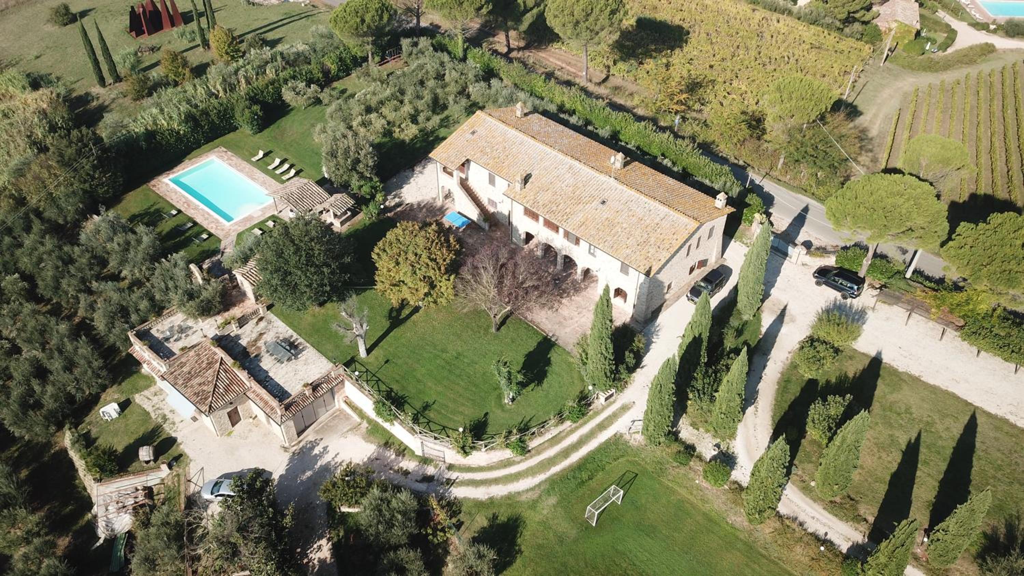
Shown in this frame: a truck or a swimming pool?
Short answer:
swimming pool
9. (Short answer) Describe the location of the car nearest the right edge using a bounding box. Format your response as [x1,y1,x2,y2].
[808,261,869,298]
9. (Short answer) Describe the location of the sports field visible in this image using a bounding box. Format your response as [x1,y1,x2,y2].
[395,454,807,576]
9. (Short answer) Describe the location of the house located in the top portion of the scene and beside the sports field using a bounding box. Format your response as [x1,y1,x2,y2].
[428,102,737,319]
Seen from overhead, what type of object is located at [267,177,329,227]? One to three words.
building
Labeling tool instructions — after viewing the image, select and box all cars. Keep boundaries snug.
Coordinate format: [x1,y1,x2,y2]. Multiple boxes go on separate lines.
[808,261,869,298]
[199,480,260,511]
[687,264,732,306]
